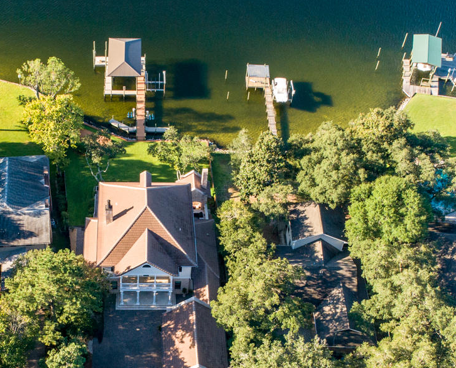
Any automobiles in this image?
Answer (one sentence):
No, there's no automobile here.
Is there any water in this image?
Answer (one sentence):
Yes, some water is visible.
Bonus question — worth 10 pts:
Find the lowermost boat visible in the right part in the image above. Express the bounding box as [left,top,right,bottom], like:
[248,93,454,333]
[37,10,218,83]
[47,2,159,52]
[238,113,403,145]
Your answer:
[269,71,288,103]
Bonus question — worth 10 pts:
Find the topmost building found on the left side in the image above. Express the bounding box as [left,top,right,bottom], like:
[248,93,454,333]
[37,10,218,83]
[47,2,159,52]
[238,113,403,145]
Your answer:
[92,29,169,141]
